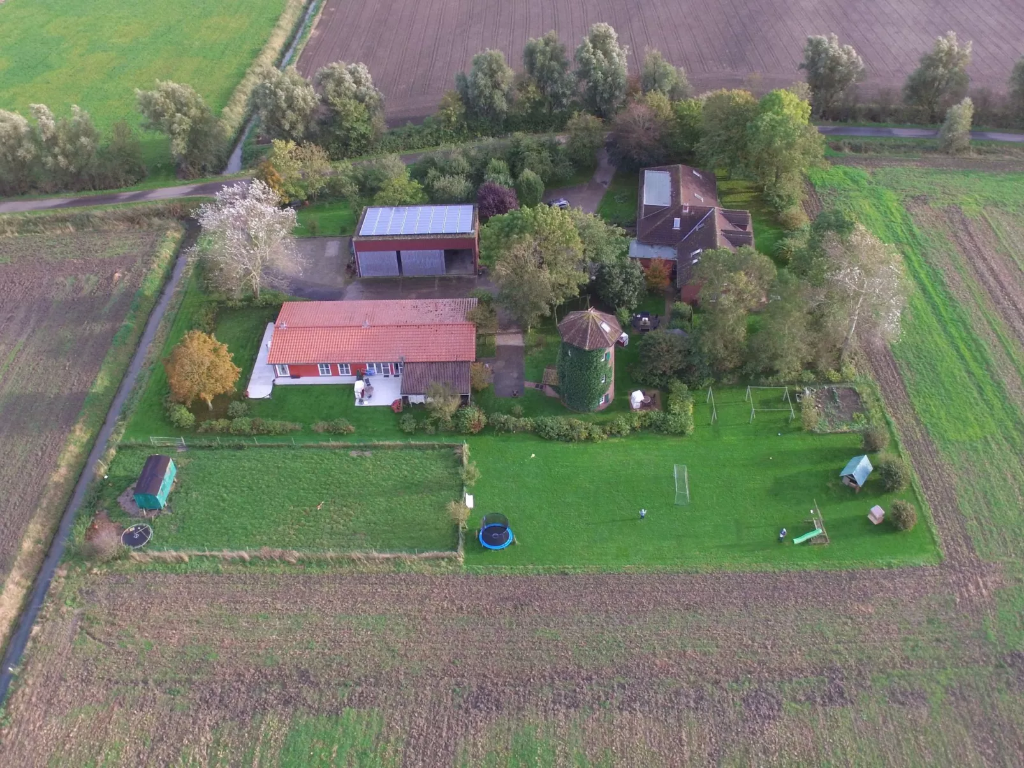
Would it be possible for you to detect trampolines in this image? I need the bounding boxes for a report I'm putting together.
[480,514,513,556]
[122,522,156,553]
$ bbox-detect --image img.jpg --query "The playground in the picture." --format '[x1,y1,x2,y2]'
[805,499,830,543]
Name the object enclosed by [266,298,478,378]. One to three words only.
house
